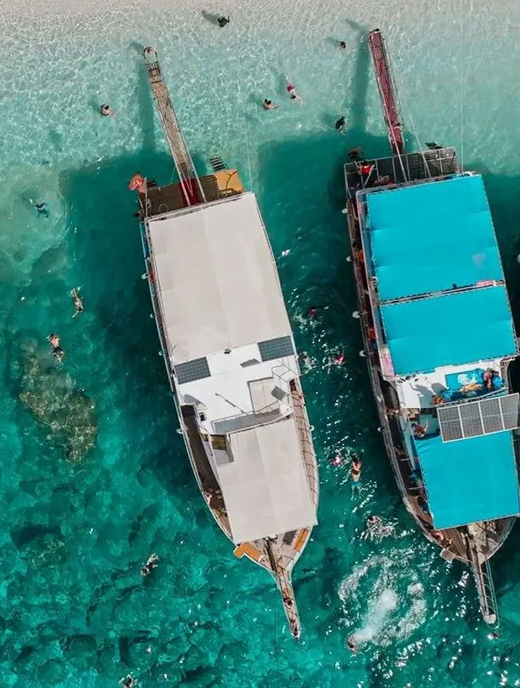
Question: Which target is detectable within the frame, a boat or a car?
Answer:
boat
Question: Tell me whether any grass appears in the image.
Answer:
No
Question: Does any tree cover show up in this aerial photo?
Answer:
No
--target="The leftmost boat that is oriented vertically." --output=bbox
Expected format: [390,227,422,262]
[134,48,319,640]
